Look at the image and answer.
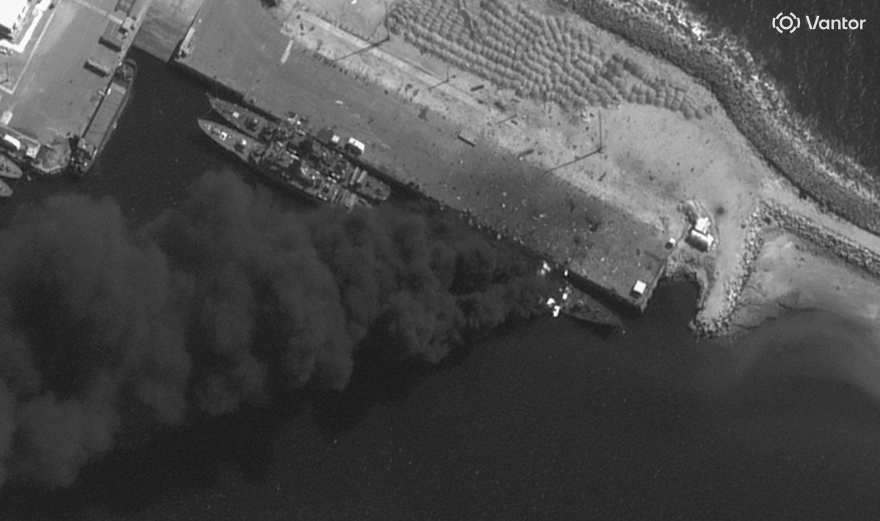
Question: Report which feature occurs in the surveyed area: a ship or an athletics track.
ship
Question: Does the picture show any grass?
No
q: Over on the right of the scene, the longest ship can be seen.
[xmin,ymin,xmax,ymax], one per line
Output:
[451,226,623,331]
